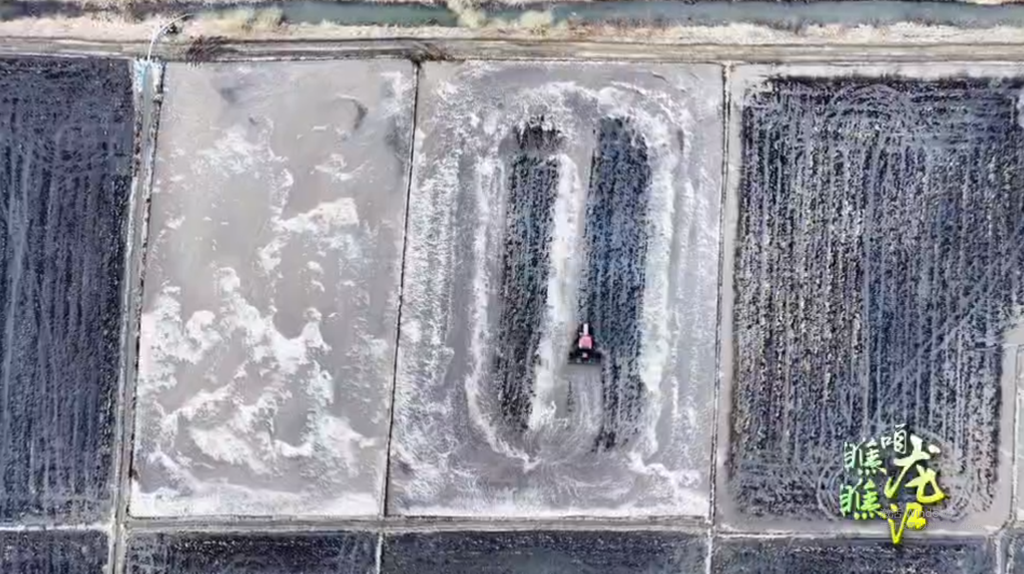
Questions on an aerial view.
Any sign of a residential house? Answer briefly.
No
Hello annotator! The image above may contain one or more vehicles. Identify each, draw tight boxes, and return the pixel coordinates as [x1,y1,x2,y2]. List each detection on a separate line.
[570,322,602,365]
